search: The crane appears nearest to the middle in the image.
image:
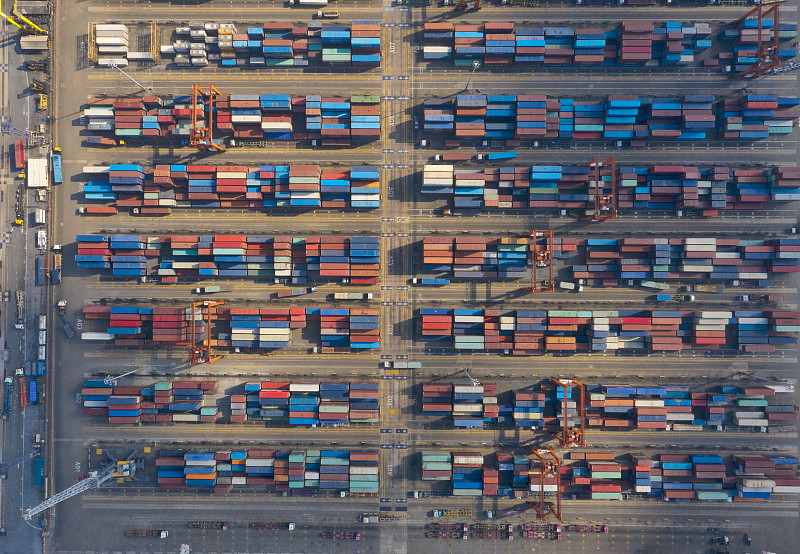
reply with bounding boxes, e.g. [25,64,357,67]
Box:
[523,227,554,293]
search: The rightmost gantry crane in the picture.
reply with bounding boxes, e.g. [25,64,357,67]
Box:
[734,2,779,80]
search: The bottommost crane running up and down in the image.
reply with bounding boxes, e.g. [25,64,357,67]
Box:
[530,445,562,518]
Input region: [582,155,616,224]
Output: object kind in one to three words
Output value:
container crane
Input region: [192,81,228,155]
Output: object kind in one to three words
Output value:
container crane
